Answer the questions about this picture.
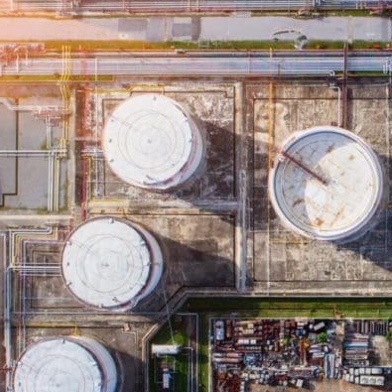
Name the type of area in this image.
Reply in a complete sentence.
The picture captures an industrial area.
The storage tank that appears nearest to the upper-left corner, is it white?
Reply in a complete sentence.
Yes, the storage tank that appears nearest to the upper-left corner is white.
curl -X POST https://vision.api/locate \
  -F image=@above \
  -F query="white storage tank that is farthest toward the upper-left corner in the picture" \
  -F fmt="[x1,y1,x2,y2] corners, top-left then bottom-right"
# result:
[102,96,207,196]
